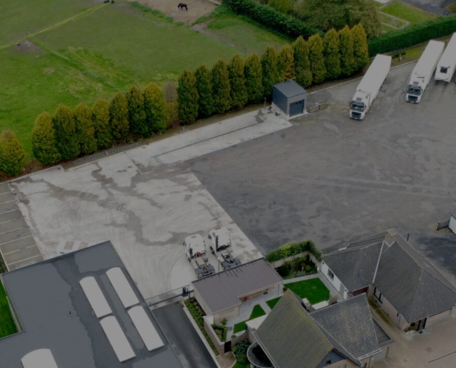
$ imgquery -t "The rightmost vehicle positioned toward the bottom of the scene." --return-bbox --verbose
[207,230,237,271]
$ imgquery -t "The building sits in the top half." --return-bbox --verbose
[272,79,309,118]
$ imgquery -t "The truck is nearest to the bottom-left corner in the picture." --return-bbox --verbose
[185,236,212,279]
